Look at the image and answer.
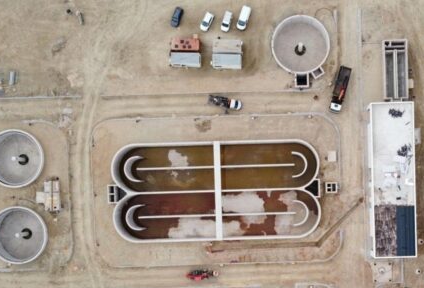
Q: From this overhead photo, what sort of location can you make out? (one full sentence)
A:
This image shows an industrial area.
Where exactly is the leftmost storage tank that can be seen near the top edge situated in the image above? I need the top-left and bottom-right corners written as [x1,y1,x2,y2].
[272,14,330,74]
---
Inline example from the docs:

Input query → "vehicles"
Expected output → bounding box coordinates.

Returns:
[208,94,245,115]
[200,11,215,32]
[170,6,185,28]
[236,4,251,33]
[220,9,233,34]
[329,65,352,115]
[184,268,212,280]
